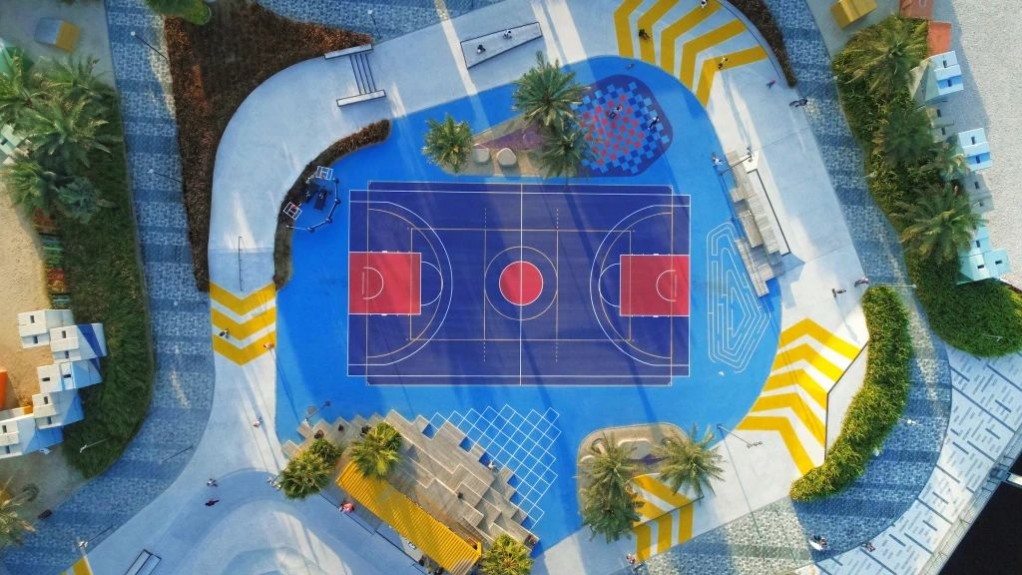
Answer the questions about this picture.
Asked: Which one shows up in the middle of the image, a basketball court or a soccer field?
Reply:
basketball court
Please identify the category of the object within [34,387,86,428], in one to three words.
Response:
shed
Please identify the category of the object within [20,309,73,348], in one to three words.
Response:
shed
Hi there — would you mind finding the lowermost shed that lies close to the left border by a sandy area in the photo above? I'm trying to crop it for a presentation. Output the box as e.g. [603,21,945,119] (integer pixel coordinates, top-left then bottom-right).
[0,415,55,458]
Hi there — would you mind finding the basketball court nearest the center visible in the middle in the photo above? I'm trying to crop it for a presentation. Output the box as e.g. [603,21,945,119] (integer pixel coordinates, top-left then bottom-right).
[347,180,691,387]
